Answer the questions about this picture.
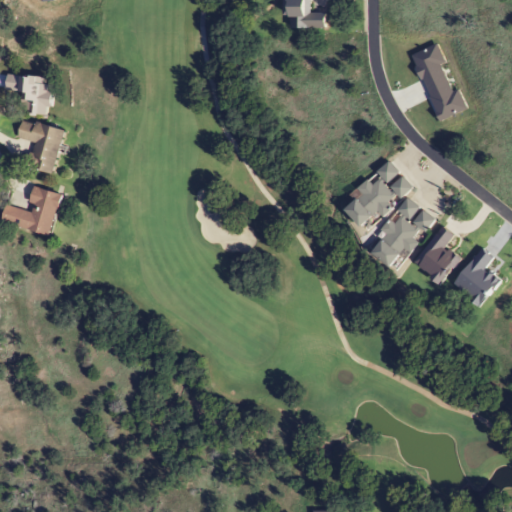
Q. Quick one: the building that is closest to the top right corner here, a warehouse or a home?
home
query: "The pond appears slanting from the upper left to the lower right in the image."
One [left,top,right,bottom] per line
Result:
[356,401,468,496]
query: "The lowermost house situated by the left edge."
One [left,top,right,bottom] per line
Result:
[2,186,62,234]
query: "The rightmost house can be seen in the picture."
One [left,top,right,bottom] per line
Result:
[455,249,504,304]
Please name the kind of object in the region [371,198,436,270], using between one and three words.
house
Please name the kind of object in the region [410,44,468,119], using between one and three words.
house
